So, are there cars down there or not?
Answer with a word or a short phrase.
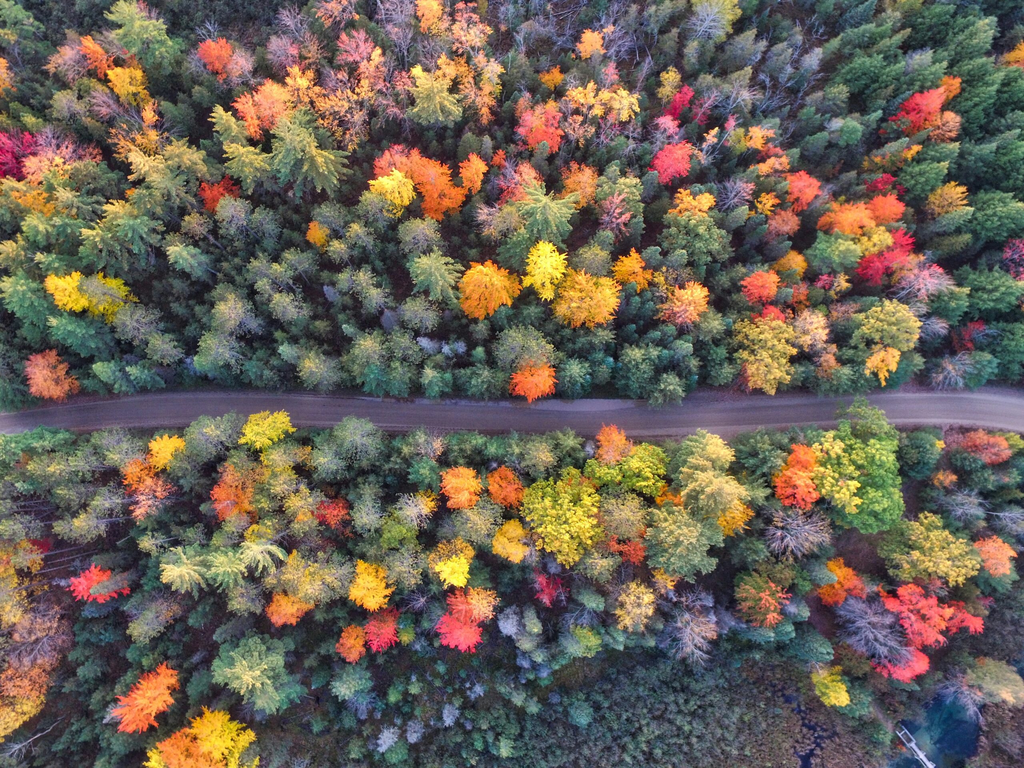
No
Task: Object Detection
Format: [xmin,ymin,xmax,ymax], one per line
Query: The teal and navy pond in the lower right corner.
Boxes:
[884,691,986,768]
